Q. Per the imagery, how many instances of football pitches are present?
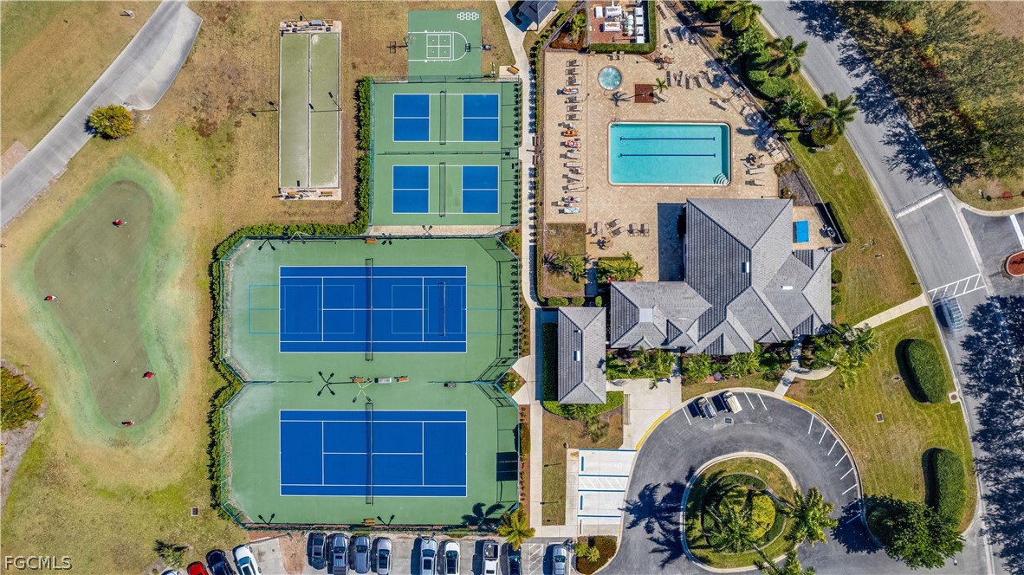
zero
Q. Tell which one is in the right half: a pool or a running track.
pool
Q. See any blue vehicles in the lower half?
Yes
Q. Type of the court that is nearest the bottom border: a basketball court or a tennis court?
tennis court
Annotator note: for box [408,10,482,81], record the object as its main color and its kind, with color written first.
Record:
green basketball court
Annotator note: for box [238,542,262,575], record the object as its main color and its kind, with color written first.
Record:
white car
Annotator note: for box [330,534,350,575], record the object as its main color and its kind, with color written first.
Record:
blue vehicle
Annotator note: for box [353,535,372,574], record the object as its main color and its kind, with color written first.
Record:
blue car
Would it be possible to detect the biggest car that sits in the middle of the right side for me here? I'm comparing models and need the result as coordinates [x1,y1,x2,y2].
[937,295,965,334]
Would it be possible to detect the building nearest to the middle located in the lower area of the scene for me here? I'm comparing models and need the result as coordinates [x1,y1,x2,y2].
[558,307,607,405]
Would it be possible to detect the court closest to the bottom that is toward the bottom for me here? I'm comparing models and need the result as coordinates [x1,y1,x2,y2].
[230,383,518,524]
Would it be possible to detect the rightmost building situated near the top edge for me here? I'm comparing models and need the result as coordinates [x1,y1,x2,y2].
[505,0,571,37]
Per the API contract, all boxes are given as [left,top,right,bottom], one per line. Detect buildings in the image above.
[558,307,607,405]
[610,197,833,356]
[505,0,571,37]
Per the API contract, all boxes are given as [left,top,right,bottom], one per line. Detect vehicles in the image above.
[330,534,350,575]
[551,546,569,575]
[190,560,209,575]
[375,537,393,575]
[506,544,524,575]
[697,398,717,421]
[420,539,439,575]
[443,542,462,575]
[723,392,743,415]
[238,542,262,575]
[311,532,330,570]
[937,295,965,334]
[484,543,500,575]
[353,535,372,574]
[211,548,236,575]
